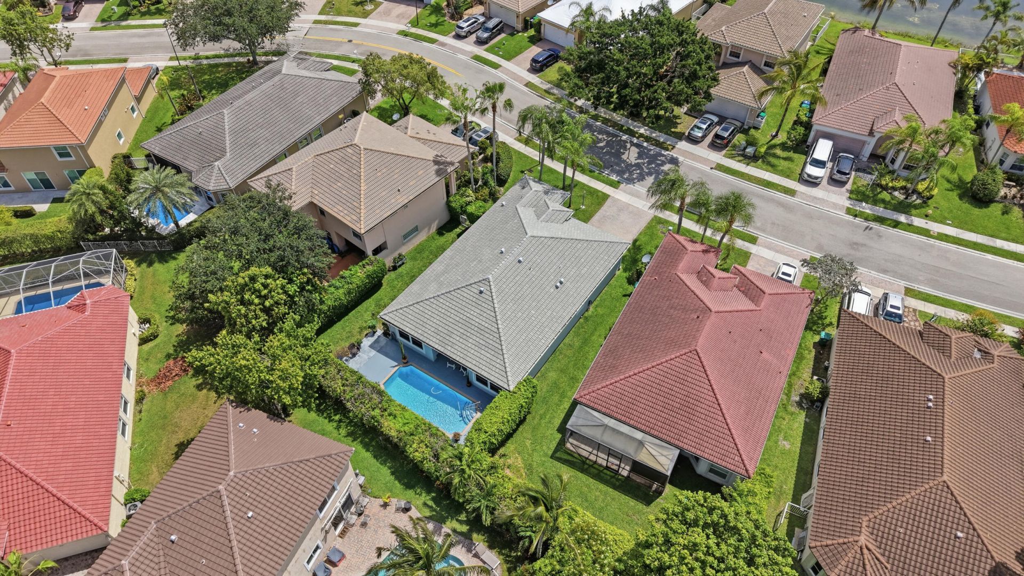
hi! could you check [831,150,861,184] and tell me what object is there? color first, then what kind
gray car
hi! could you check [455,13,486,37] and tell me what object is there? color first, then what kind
gray car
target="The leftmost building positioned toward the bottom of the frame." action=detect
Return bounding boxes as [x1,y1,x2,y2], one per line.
[0,283,138,575]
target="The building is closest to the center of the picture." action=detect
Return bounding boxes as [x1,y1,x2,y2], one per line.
[378,171,632,397]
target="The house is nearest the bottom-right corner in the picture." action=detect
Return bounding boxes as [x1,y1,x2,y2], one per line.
[803,306,1024,576]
